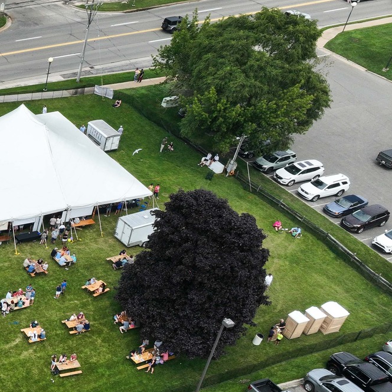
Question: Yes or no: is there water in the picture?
No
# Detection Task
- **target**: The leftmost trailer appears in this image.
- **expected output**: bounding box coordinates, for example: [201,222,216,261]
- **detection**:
[80,116,126,150]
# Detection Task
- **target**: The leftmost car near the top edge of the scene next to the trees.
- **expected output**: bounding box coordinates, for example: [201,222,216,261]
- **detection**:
[161,12,192,30]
